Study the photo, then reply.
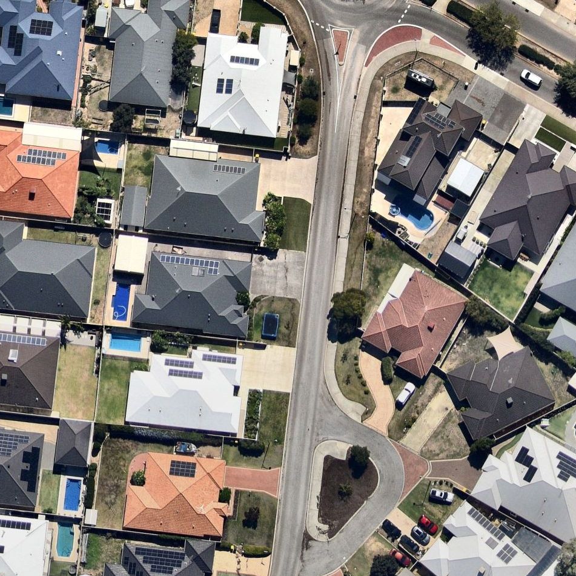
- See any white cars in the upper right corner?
Yes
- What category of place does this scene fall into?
residential area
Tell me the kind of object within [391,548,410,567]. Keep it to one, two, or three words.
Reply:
car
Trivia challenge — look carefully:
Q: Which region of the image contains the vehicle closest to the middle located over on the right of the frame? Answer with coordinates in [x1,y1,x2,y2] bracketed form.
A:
[395,384,415,407]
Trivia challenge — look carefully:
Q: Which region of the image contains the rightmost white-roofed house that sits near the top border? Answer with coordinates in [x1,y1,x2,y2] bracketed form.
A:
[197,26,287,137]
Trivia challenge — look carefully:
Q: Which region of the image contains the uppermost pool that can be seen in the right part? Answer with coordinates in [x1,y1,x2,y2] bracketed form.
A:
[389,183,433,227]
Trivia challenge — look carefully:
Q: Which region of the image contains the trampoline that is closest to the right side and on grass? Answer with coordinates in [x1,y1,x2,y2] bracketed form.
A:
[261,312,277,337]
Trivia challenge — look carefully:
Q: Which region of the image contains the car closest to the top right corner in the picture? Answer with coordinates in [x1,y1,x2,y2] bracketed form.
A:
[519,70,543,87]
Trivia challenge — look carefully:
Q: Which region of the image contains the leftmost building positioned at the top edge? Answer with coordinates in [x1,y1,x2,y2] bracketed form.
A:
[0,0,83,100]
